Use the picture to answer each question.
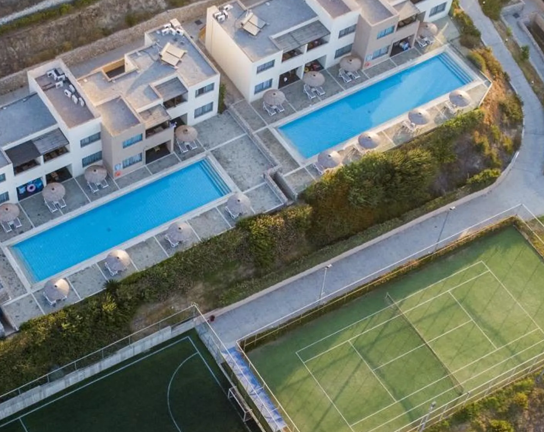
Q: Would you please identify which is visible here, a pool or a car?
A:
pool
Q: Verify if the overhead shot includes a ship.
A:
No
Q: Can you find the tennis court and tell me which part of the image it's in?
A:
bottom right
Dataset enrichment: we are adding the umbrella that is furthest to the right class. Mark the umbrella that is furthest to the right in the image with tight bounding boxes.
[445,90,470,112]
